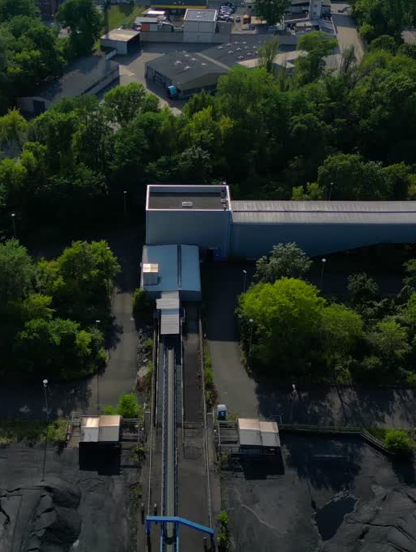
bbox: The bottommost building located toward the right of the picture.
[236,418,280,456]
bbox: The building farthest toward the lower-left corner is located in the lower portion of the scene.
[82,413,122,451]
